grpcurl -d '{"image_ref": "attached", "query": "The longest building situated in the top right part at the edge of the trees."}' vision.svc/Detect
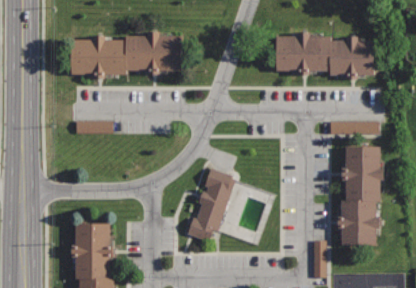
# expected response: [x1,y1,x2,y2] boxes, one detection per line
[276,33,374,80]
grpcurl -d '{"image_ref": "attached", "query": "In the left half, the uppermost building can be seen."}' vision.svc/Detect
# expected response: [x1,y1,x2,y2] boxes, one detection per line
[71,33,182,78]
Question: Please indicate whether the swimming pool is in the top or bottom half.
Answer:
bottom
